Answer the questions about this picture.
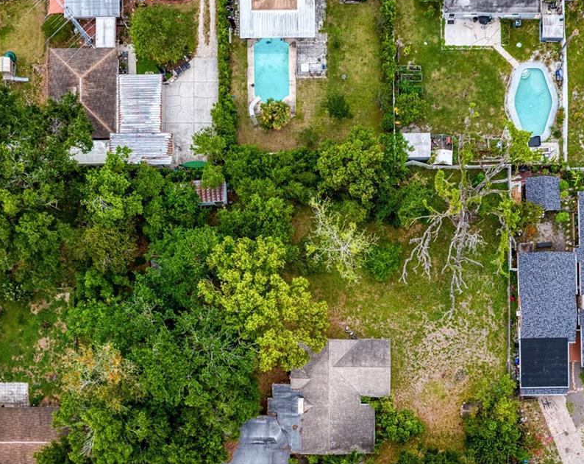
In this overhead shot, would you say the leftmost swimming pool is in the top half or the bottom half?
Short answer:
top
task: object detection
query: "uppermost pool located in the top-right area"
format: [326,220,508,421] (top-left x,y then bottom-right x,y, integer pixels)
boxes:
[506,60,559,143]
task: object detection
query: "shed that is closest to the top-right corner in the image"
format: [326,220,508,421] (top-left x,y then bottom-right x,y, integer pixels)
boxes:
[539,15,563,44]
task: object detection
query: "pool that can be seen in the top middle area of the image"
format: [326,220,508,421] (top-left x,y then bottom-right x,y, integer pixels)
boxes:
[248,38,295,116]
